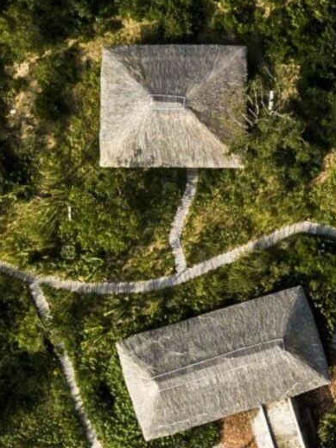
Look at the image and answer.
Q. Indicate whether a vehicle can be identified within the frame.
No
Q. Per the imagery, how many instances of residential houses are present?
2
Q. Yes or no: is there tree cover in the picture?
Yes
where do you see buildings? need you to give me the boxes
[115,288,329,441]
[98,45,248,169]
